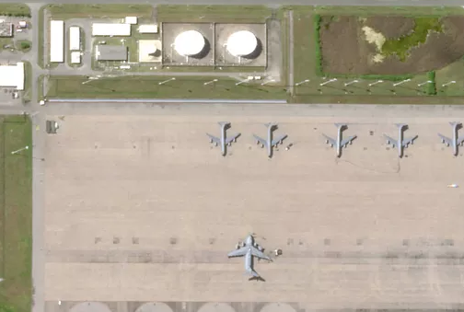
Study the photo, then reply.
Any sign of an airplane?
Yes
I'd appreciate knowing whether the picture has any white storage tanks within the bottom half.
No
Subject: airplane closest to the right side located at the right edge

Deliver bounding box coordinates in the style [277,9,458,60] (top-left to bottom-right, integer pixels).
[438,121,464,157]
